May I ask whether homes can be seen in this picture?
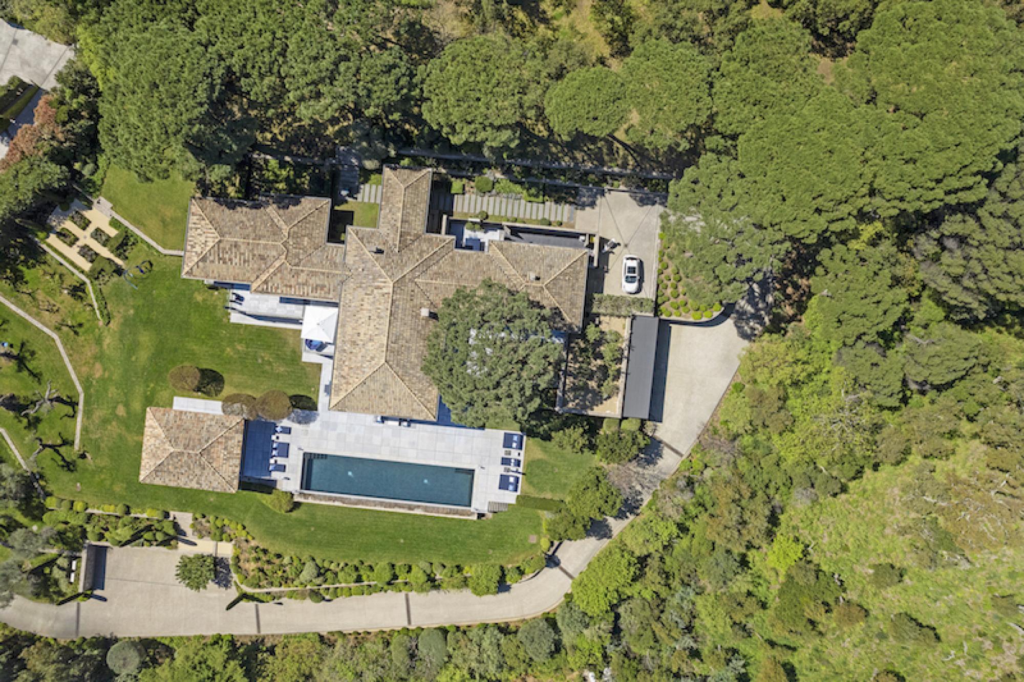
Yes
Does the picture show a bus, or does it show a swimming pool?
swimming pool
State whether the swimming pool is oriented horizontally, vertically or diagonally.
horizontally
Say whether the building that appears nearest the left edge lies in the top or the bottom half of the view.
bottom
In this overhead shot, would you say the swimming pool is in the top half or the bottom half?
bottom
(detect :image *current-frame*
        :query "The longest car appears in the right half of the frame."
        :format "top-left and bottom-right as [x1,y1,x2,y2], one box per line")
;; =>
[624,256,643,293]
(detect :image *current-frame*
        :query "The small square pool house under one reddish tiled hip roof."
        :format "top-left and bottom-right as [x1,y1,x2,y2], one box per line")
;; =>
[139,407,250,493]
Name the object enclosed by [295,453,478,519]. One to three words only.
swimming pool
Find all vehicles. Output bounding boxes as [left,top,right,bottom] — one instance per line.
[603,239,615,250]
[624,256,643,293]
